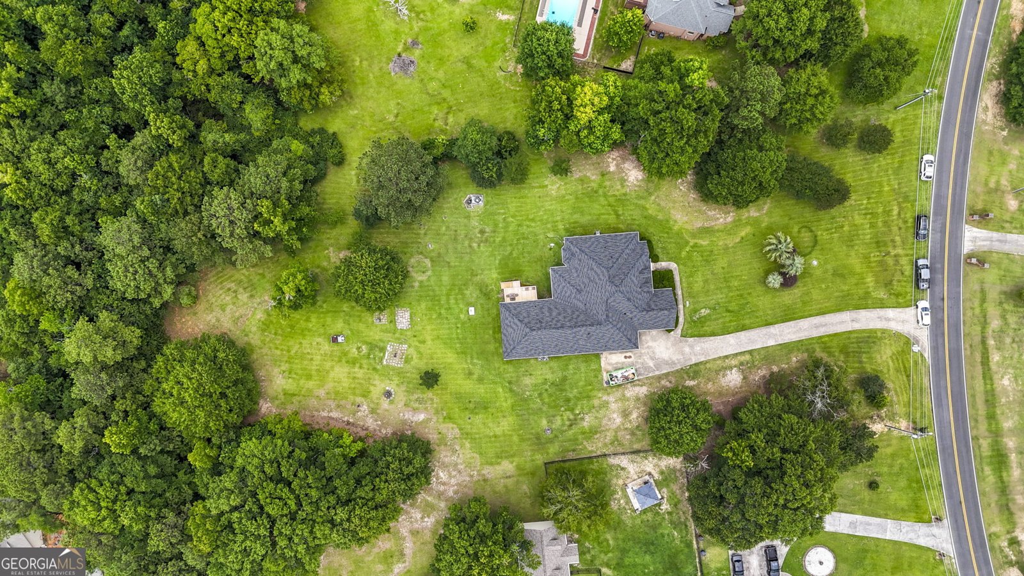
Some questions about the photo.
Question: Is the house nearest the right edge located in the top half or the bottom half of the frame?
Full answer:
The top half of the photo is where the house nearest the right edge is.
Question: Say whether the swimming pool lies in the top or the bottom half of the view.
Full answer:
The swimming pool sits in the top half of the picture.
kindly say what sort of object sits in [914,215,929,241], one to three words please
car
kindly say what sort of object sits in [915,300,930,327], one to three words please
car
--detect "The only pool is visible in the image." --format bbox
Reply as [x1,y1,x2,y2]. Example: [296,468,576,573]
[537,0,602,59]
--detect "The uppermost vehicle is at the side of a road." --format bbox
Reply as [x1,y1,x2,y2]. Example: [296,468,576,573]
[918,154,934,181]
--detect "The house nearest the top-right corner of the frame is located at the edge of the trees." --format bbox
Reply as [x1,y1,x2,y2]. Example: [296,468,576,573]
[642,0,739,43]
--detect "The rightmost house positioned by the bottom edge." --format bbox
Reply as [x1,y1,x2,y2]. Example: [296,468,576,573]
[518,522,580,576]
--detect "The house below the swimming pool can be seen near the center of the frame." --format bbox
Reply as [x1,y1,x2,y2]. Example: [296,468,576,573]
[500,231,676,360]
